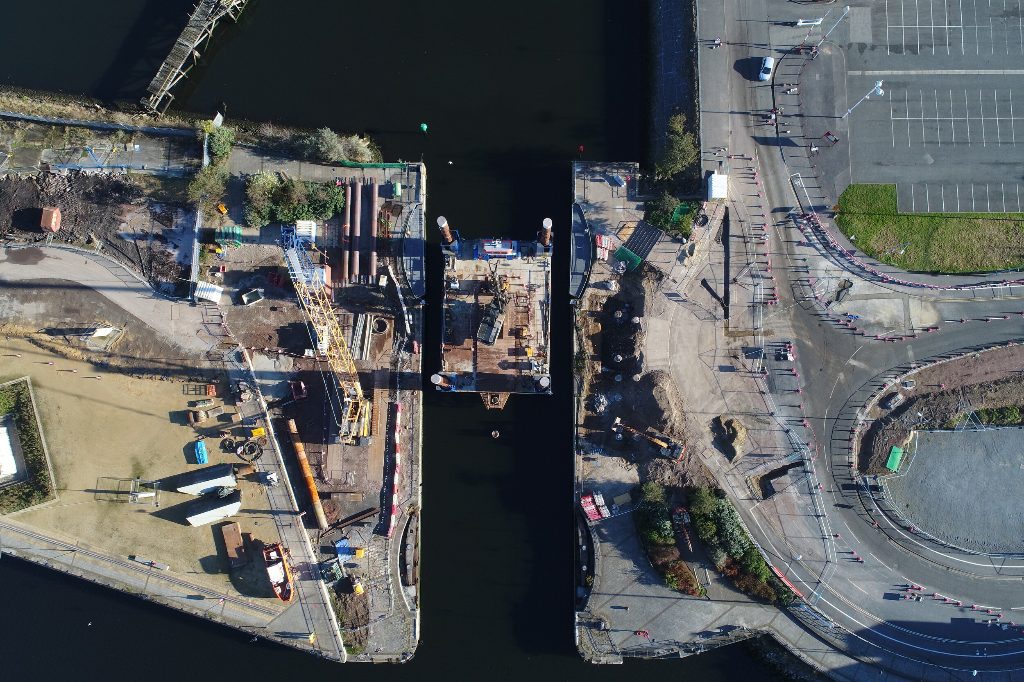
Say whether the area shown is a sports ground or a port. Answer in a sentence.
This looks like a port.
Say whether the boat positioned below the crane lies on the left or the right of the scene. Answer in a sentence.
You can find the boat positioned below the crane on the left side of the picture.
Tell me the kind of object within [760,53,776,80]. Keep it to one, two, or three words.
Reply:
car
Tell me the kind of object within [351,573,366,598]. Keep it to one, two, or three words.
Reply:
vehicle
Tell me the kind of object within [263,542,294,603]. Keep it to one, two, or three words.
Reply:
boat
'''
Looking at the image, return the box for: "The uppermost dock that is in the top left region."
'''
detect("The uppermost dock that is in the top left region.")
[140,0,251,114]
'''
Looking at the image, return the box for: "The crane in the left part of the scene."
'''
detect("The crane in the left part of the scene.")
[279,223,381,447]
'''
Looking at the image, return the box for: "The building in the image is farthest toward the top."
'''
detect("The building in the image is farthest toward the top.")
[709,174,727,202]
